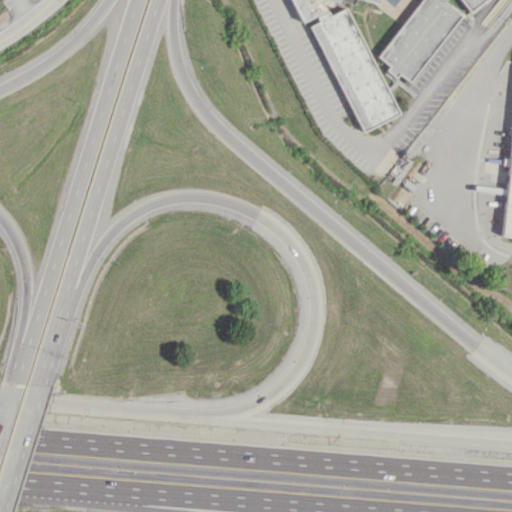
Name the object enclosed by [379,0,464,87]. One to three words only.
building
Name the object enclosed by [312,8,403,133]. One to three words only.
building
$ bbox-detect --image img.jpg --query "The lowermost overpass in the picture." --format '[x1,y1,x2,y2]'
[0,378,56,512]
